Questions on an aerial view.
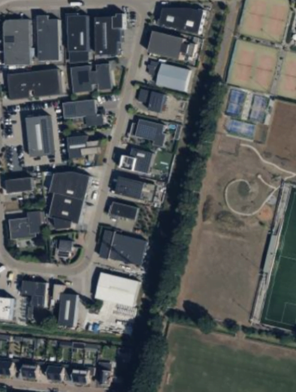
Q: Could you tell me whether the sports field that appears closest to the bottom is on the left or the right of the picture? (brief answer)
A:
right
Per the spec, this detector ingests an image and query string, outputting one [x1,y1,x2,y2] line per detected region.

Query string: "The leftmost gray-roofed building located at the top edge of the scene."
[3,19,32,65]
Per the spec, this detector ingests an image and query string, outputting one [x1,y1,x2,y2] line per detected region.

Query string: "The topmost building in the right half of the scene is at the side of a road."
[159,8,206,33]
